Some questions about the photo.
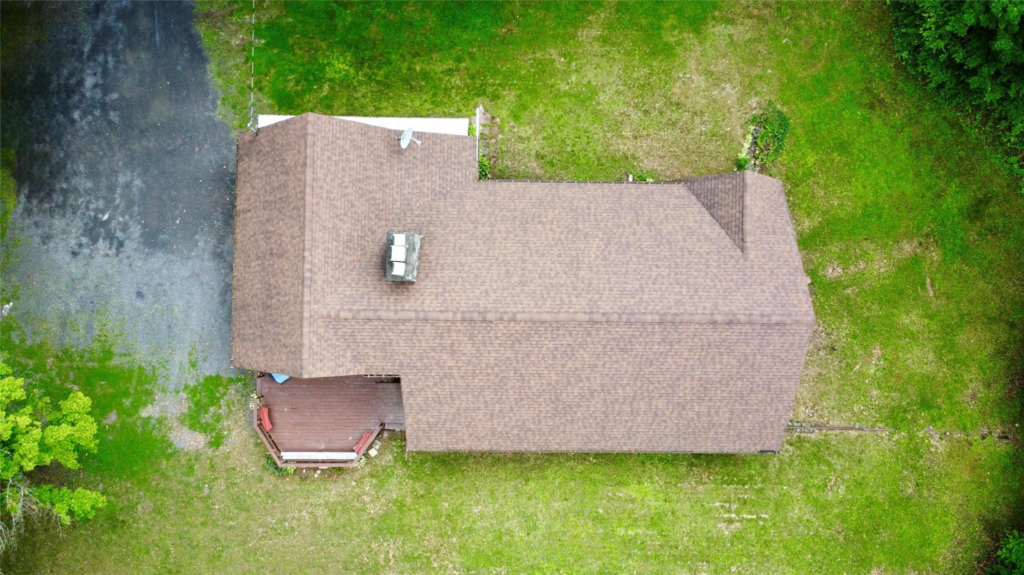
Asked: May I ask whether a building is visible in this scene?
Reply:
Yes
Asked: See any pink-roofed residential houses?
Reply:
No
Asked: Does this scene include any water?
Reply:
No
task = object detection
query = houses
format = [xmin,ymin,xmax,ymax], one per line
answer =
[230,105,815,458]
